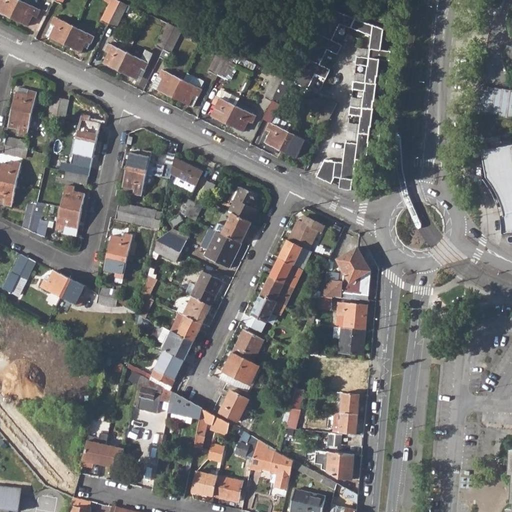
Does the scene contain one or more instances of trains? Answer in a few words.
Yes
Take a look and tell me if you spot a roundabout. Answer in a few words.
Yes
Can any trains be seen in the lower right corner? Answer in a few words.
No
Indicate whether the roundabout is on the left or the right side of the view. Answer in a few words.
right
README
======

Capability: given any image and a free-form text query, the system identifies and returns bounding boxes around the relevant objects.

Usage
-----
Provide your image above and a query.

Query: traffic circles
[396,200,444,252]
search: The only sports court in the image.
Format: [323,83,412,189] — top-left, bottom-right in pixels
[22,489,62,512]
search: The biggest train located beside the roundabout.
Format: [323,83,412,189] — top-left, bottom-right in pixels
[396,134,421,228]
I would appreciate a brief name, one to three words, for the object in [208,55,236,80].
shed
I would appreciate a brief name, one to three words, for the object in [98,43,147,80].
house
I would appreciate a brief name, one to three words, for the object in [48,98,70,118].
building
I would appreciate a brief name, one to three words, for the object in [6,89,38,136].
house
